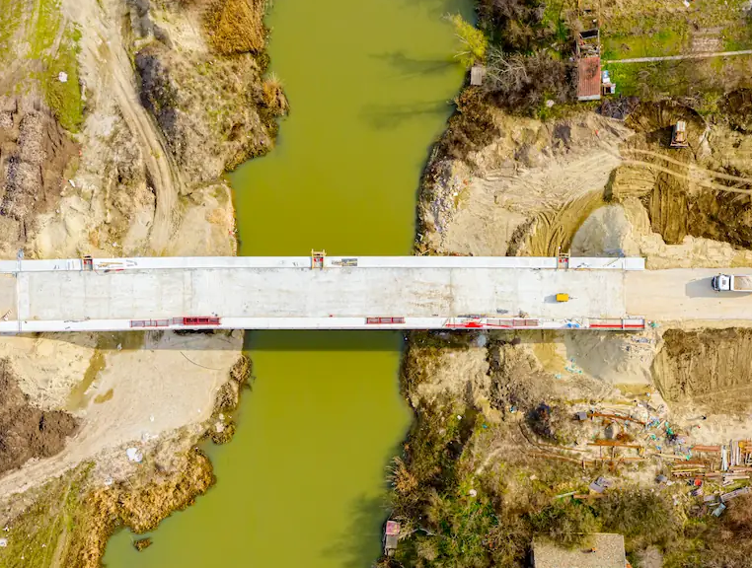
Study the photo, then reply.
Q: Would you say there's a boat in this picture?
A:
No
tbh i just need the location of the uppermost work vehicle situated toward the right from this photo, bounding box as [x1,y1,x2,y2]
[665,123,686,151]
